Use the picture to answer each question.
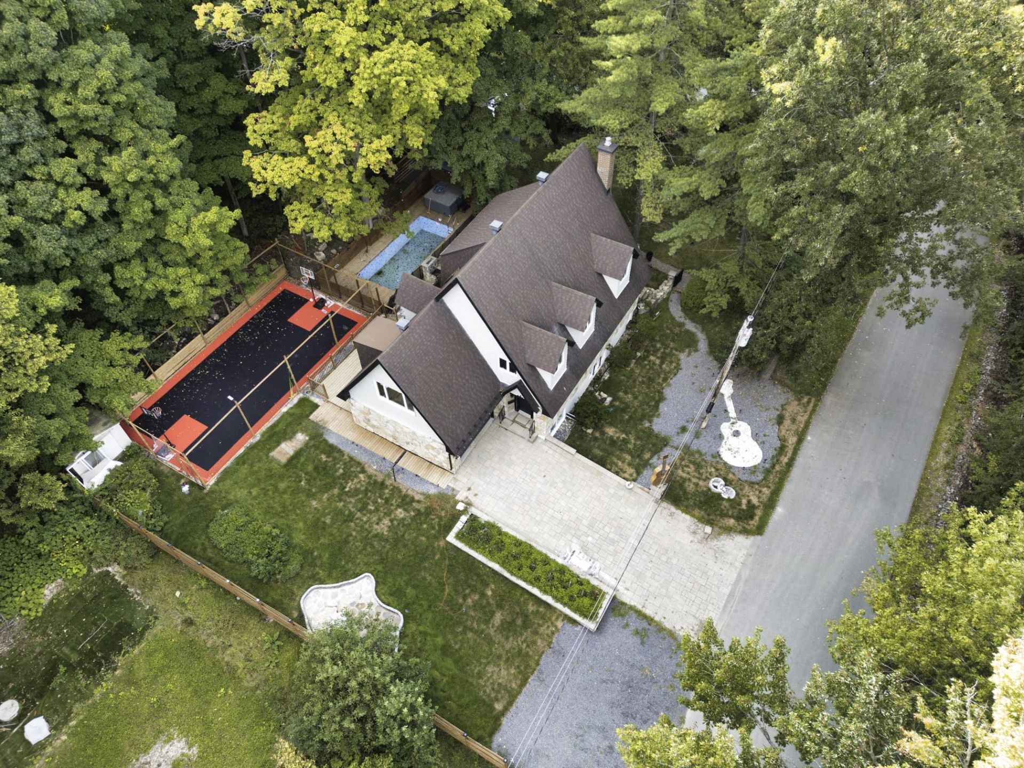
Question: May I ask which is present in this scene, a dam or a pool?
pool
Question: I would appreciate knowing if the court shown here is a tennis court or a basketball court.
basketball court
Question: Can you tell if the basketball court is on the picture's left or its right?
left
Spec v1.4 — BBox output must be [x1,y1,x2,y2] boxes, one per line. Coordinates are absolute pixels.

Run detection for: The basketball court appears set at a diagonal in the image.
[110,278,368,484]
